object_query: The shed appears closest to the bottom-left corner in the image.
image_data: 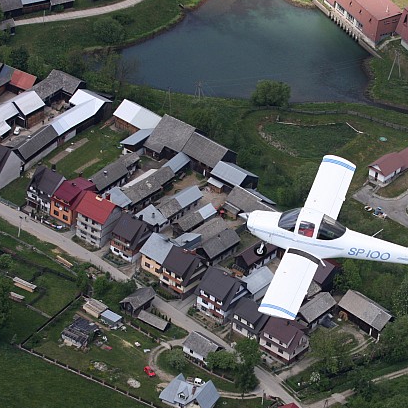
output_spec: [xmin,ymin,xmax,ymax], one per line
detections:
[62,324,99,353]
